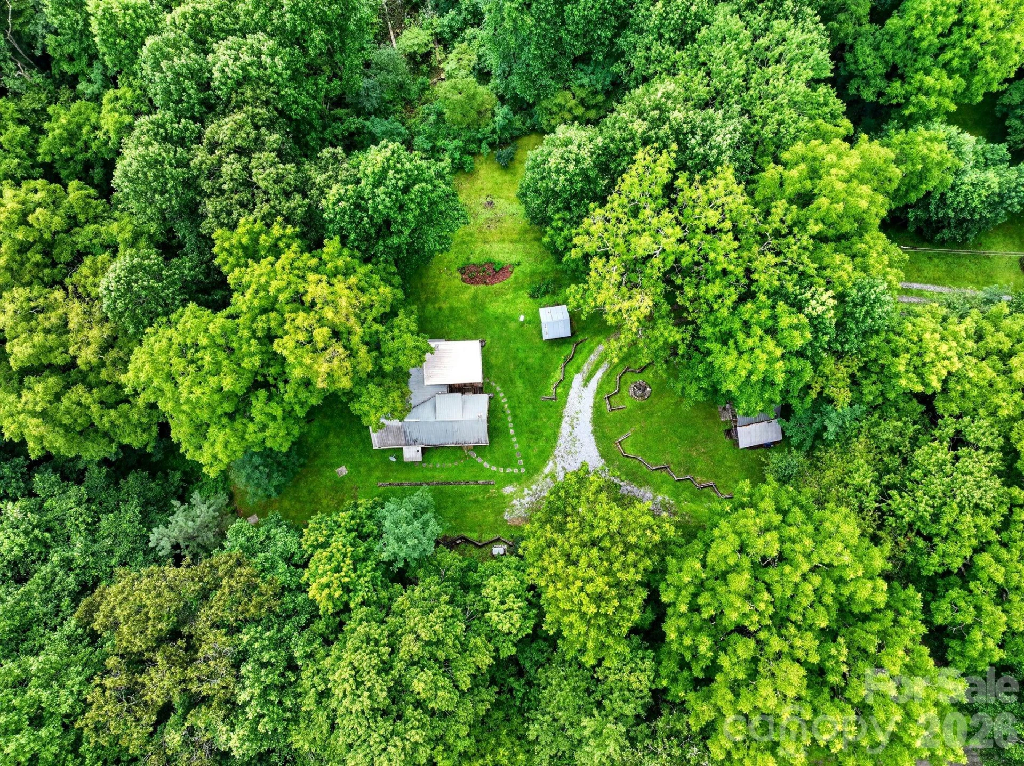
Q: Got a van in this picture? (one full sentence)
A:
No, the scene contains no van.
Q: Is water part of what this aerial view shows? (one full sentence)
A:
No, the picture contains no water.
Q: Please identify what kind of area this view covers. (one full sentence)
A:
It's a forest.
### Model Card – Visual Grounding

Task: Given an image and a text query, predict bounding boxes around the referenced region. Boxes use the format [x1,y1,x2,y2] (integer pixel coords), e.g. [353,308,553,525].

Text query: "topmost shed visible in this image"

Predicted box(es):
[539,305,571,343]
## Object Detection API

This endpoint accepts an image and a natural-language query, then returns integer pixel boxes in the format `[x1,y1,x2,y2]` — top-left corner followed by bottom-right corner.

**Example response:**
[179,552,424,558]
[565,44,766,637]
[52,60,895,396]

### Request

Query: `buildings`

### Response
[366,339,492,461]
[539,305,571,343]
[734,401,782,448]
